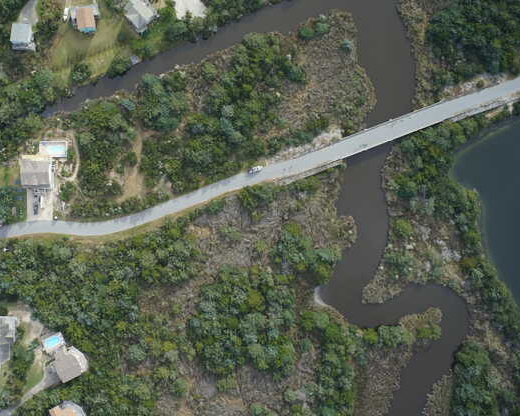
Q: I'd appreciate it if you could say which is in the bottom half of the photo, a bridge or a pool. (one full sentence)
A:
The feature located in the bottom half of the photo is a pool.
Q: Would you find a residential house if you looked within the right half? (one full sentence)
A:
No, no residential house is visible within the right half.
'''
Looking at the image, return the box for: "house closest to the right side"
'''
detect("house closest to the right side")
[123,0,158,33]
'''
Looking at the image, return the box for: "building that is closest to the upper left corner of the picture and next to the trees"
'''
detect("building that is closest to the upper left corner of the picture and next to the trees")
[11,24,35,51]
